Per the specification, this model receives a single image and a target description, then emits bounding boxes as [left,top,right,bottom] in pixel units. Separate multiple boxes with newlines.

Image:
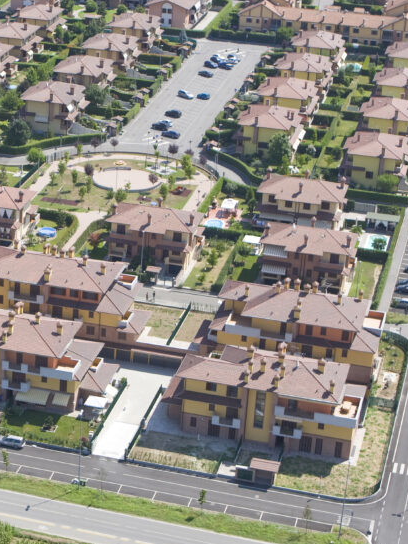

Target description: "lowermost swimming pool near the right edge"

[364,235,388,250]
